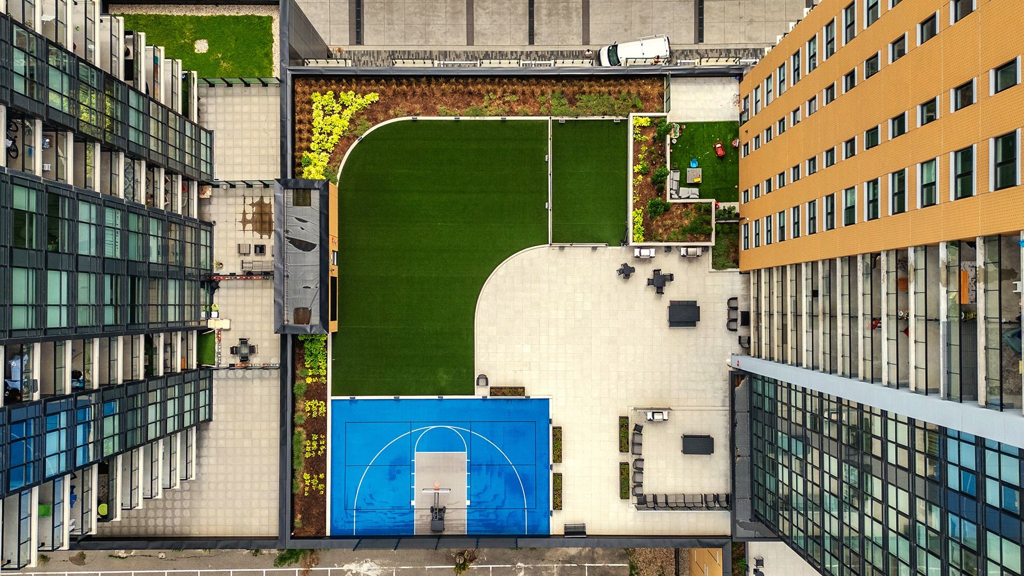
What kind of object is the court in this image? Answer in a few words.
basketball court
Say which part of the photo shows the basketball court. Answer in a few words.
bottom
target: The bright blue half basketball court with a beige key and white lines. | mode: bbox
[331,399,550,535]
